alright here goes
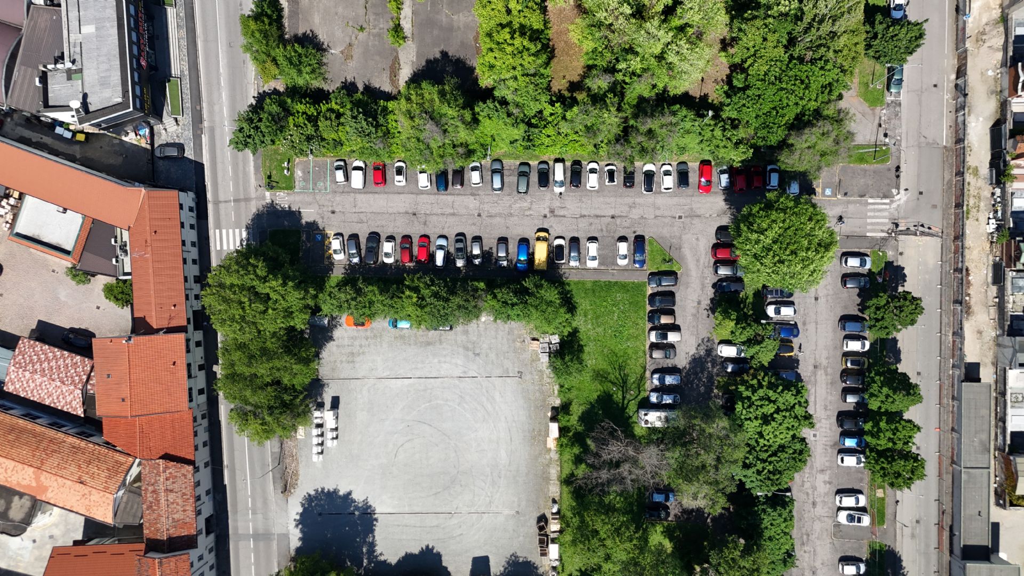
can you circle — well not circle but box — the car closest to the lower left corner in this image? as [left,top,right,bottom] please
[61,330,95,349]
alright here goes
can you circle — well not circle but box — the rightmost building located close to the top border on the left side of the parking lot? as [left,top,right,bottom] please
[41,0,157,140]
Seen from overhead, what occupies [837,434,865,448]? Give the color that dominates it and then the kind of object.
blue car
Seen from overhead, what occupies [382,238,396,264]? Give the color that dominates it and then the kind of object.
white car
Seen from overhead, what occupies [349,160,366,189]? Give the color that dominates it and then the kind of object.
white car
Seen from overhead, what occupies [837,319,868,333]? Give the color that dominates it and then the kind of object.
blue car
